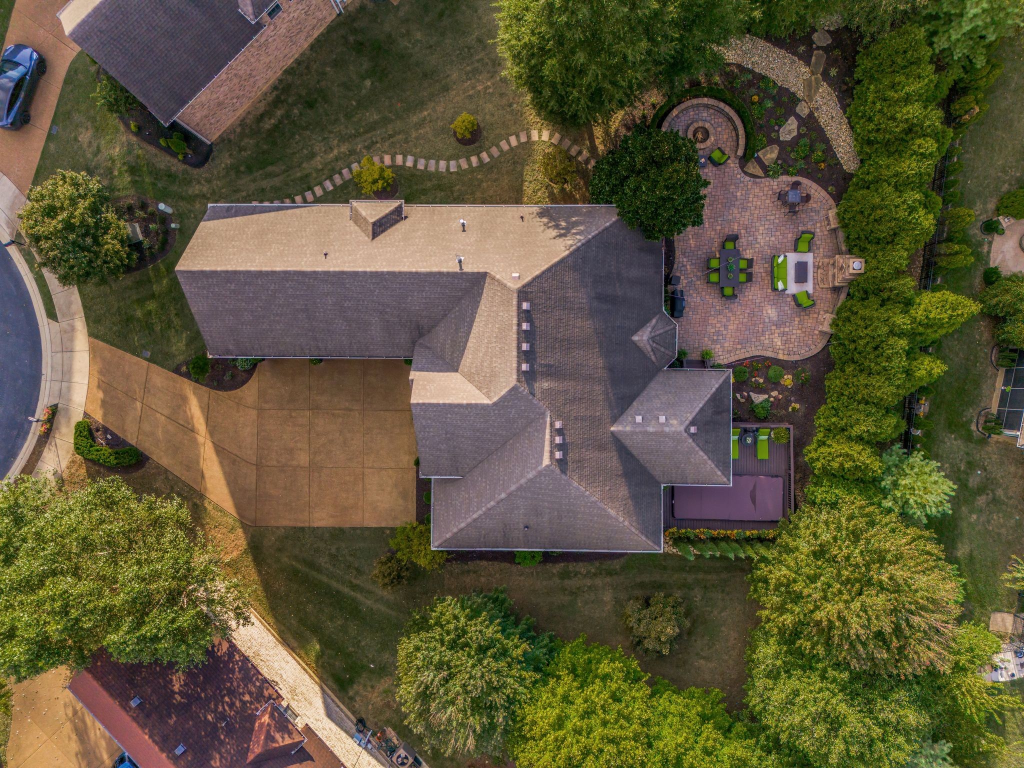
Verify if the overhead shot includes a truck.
No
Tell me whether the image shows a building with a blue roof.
No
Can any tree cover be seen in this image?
Yes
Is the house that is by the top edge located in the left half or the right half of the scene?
left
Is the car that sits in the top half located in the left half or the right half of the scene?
left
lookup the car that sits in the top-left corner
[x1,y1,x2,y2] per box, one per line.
[0,40,50,131]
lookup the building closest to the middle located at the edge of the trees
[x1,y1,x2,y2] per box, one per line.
[179,198,734,554]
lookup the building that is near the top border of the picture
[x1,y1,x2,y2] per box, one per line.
[56,0,352,142]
